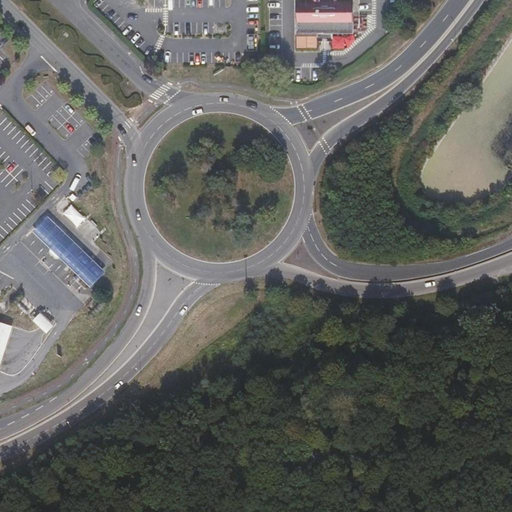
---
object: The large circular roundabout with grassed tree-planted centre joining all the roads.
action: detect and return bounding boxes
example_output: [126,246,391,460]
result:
[124,92,314,282]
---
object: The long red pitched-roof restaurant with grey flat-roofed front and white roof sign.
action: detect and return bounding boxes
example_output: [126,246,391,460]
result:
[296,0,354,33]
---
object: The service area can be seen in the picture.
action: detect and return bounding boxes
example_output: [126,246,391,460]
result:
[0,201,113,304]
